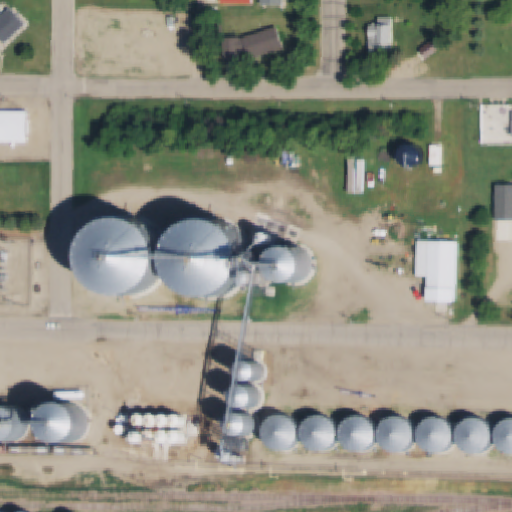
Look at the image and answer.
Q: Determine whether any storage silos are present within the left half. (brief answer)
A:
Yes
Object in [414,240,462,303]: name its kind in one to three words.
building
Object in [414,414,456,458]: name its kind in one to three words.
silo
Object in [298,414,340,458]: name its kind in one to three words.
silo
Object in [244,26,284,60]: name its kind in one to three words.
house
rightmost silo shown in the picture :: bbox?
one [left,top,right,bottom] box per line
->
[492,414,512,454]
